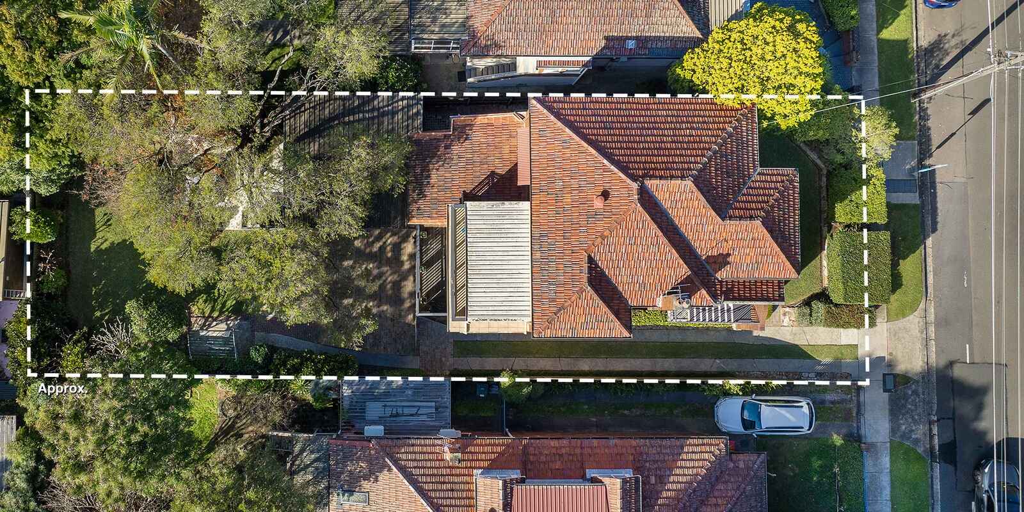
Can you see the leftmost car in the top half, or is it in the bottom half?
bottom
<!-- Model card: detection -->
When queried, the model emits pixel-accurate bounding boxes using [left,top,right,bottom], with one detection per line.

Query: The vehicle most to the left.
[713,392,814,441]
